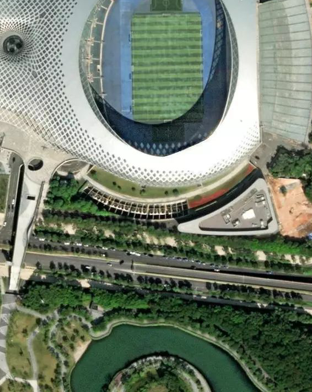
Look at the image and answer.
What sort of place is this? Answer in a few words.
sports ground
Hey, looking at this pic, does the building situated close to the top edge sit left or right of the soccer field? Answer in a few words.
to its right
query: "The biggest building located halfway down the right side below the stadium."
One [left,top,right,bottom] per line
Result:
[178,179,278,236]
